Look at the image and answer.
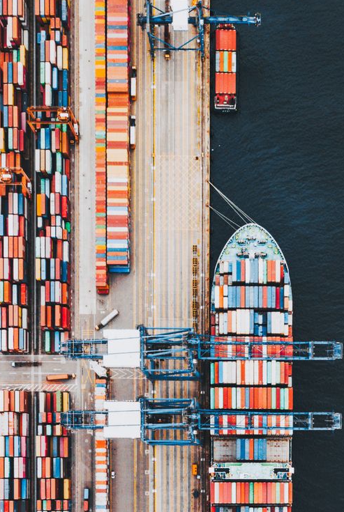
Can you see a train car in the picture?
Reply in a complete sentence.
No, the photo shows no train car.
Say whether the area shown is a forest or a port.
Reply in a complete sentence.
What you see here is a port.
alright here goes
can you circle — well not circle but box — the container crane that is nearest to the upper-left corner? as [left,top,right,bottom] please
[27,106,78,141]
